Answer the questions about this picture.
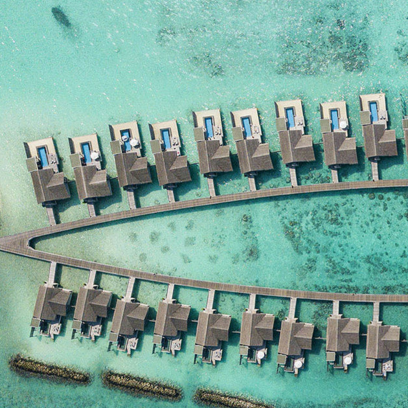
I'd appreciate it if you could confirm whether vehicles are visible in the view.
No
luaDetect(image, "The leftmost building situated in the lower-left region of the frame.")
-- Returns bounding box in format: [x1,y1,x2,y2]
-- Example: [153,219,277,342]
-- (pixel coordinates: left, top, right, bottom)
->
[27,278,73,344]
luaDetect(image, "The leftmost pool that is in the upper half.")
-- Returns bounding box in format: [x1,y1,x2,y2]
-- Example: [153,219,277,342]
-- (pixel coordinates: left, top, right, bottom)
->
[36,144,51,168]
